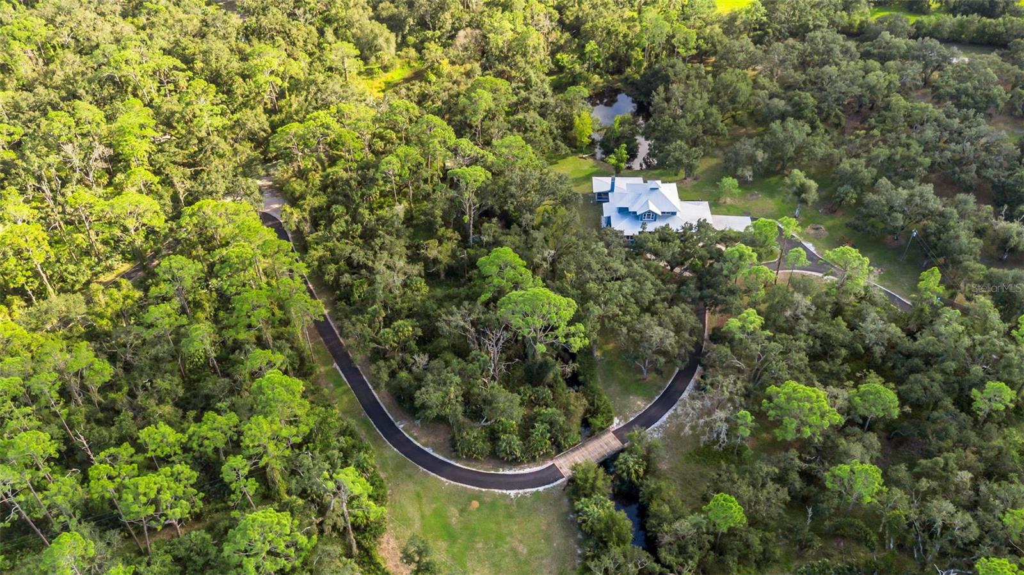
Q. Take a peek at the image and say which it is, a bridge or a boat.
bridge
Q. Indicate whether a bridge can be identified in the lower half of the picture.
Yes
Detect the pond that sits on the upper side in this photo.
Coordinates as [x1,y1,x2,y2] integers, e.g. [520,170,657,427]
[587,92,660,174]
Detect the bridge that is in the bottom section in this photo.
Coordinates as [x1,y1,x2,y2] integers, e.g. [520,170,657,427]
[549,426,628,481]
